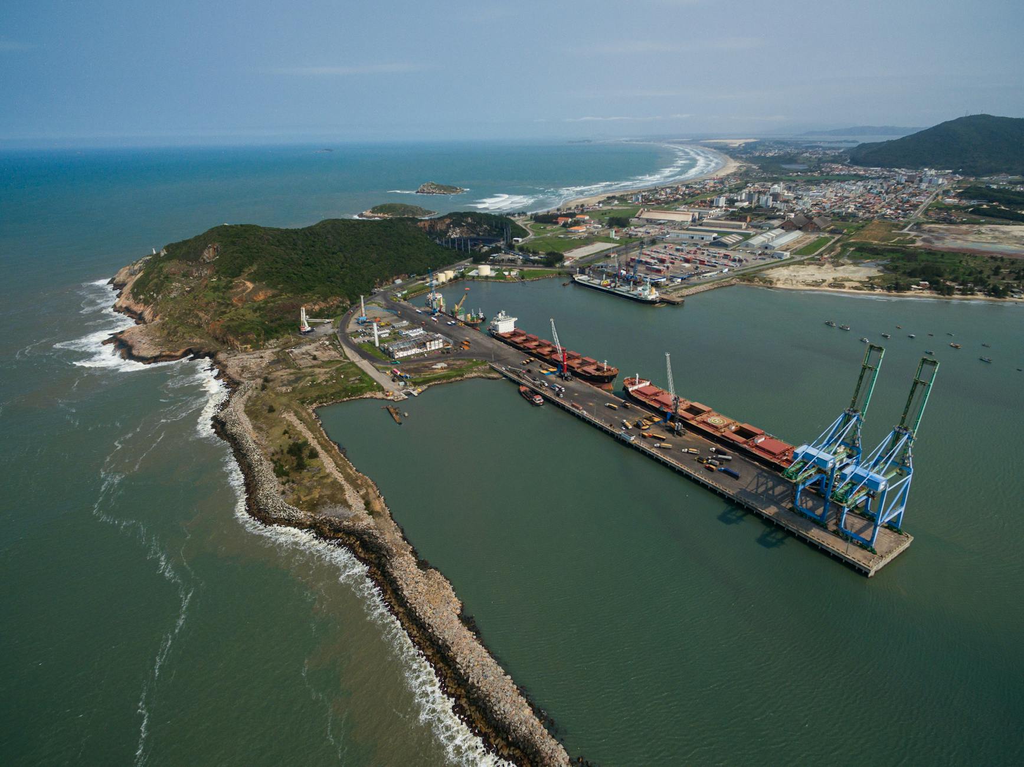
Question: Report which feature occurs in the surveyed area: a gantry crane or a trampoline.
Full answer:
Of the two, only a gantry crane appears.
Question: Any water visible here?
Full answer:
Yes, there is water in the image.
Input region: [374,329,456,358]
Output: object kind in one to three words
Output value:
building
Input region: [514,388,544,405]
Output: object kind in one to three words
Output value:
boat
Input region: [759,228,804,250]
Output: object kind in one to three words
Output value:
building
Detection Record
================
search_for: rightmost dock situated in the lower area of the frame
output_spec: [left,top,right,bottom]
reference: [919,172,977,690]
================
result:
[490,356,916,576]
